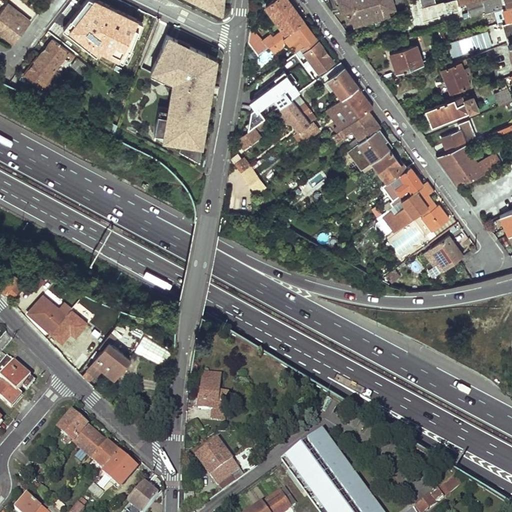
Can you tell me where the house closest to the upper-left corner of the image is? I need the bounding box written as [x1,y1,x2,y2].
[0,2,32,47]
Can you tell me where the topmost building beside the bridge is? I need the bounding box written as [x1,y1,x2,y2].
[151,40,219,165]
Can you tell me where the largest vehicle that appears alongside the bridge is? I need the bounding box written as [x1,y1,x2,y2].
[139,269,176,294]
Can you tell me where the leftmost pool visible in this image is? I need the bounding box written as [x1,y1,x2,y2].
[257,52,273,68]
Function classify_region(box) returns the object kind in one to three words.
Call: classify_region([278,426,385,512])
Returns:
building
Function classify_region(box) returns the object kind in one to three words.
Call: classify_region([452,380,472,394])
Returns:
vehicle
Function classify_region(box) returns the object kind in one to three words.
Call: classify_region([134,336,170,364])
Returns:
greenhouse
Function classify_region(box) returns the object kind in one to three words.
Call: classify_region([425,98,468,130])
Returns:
house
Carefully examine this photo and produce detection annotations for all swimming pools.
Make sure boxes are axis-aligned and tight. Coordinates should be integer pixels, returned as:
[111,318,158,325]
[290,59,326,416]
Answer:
[409,260,424,274]
[317,232,330,244]
[309,172,325,188]
[257,52,273,68]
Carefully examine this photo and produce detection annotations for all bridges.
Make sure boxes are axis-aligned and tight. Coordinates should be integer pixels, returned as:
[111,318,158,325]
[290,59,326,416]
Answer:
[172,210,224,322]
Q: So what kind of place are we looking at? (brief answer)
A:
residential area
